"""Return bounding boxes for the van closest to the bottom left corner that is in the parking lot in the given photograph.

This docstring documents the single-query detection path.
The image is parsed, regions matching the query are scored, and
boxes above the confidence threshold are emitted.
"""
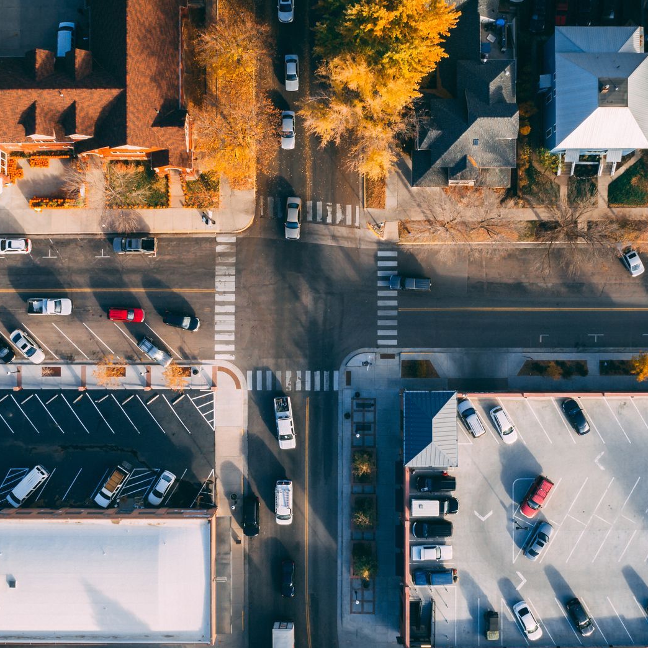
[8,461,51,507]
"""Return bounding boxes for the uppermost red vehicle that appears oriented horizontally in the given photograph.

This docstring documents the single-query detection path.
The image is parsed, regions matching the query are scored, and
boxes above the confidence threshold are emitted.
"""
[107,305,145,323]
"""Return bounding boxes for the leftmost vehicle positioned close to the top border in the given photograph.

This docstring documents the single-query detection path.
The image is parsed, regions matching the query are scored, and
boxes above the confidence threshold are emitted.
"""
[56,21,76,55]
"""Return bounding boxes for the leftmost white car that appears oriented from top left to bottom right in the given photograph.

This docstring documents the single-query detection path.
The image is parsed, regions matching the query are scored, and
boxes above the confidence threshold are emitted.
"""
[5,323,49,368]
